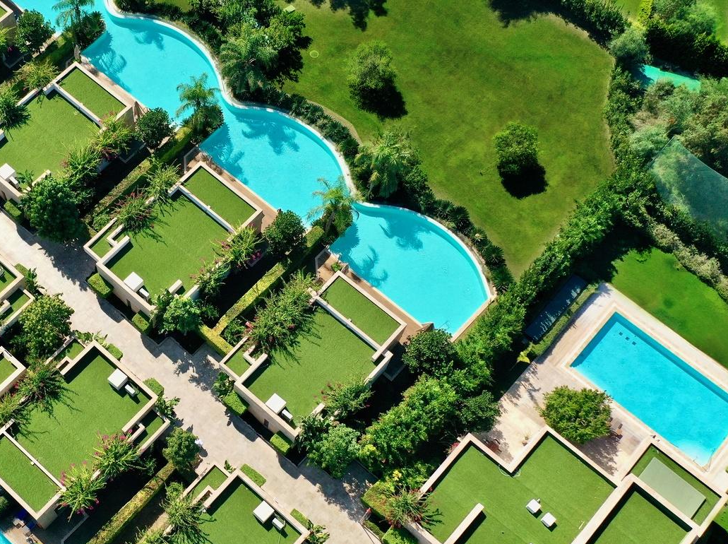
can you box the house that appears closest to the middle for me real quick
[222,272,407,448]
